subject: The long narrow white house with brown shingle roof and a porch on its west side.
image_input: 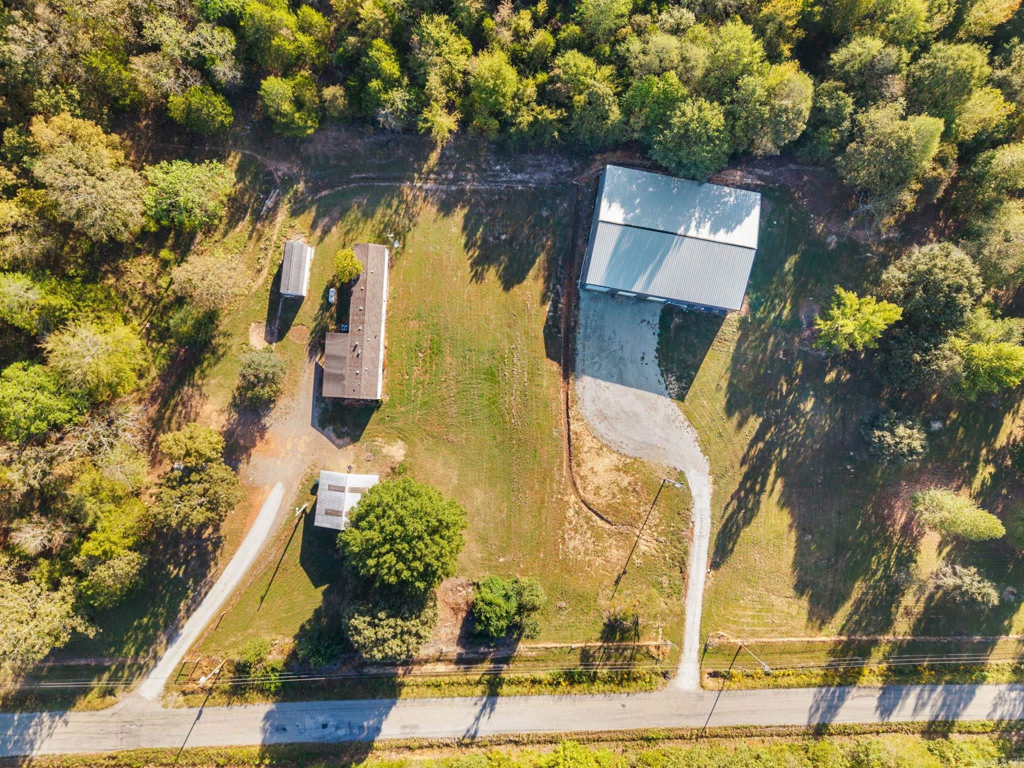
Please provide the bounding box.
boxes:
[322,243,389,408]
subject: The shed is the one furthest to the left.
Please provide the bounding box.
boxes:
[280,241,315,299]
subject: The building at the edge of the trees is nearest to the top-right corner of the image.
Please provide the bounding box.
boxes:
[582,163,762,319]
